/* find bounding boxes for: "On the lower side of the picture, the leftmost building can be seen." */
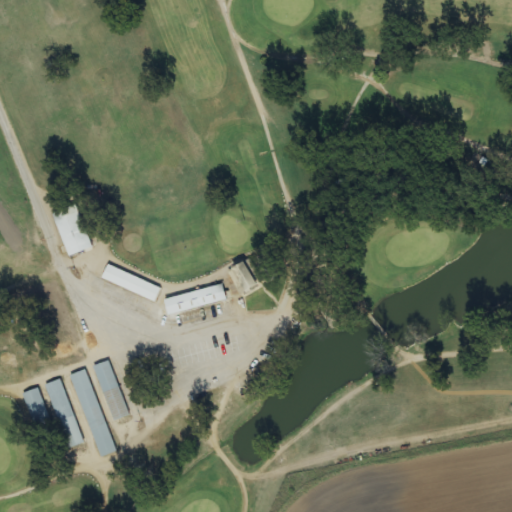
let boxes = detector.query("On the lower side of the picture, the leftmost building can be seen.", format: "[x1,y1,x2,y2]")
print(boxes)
[23,387,57,438]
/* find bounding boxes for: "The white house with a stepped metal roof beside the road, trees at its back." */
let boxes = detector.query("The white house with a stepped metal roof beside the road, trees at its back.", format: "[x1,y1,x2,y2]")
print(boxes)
[54,209,92,255]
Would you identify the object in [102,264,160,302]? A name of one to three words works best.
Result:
shed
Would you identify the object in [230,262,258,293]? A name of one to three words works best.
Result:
building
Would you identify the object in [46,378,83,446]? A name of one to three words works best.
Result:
barn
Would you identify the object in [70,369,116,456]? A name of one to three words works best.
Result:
barn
